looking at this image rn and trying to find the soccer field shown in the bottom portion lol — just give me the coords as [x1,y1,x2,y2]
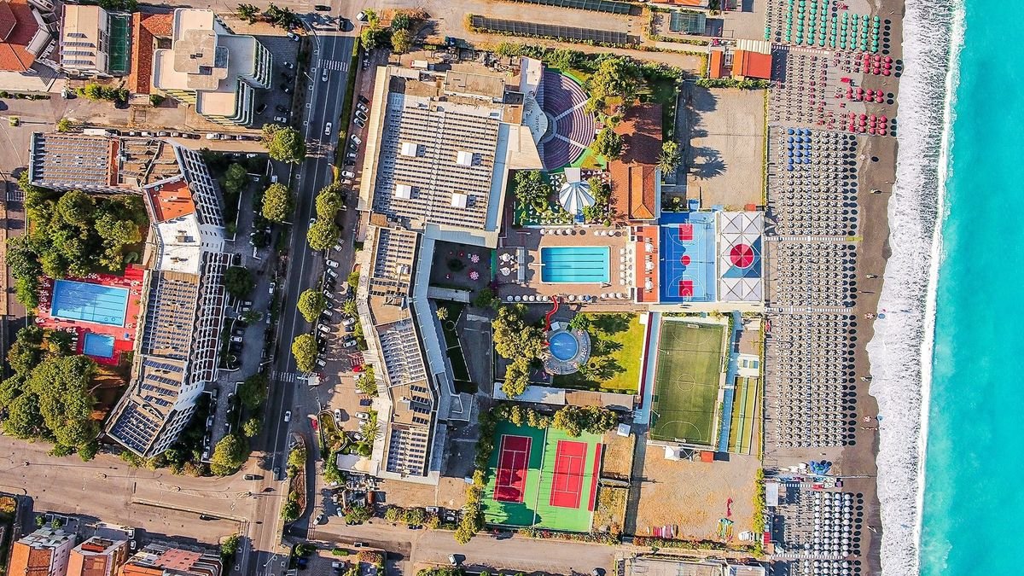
[650,320,725,446]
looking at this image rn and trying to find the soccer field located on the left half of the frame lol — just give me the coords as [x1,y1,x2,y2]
[108,13,130,75]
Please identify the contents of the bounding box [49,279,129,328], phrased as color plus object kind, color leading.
blue swimming pool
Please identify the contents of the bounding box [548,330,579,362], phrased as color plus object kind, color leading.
blue swimming pool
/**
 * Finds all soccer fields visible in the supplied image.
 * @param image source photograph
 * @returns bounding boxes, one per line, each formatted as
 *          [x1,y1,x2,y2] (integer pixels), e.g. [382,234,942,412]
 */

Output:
[650,320,725,446]
[108,13,130,75]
